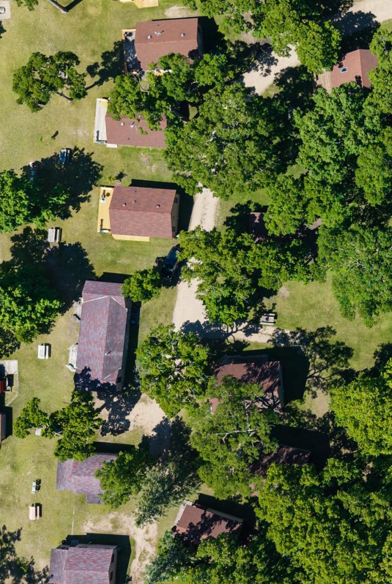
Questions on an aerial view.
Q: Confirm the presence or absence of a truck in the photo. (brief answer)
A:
No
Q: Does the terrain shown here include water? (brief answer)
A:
No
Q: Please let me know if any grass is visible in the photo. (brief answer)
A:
Yes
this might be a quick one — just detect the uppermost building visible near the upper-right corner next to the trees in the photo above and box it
[313,46,379,93]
